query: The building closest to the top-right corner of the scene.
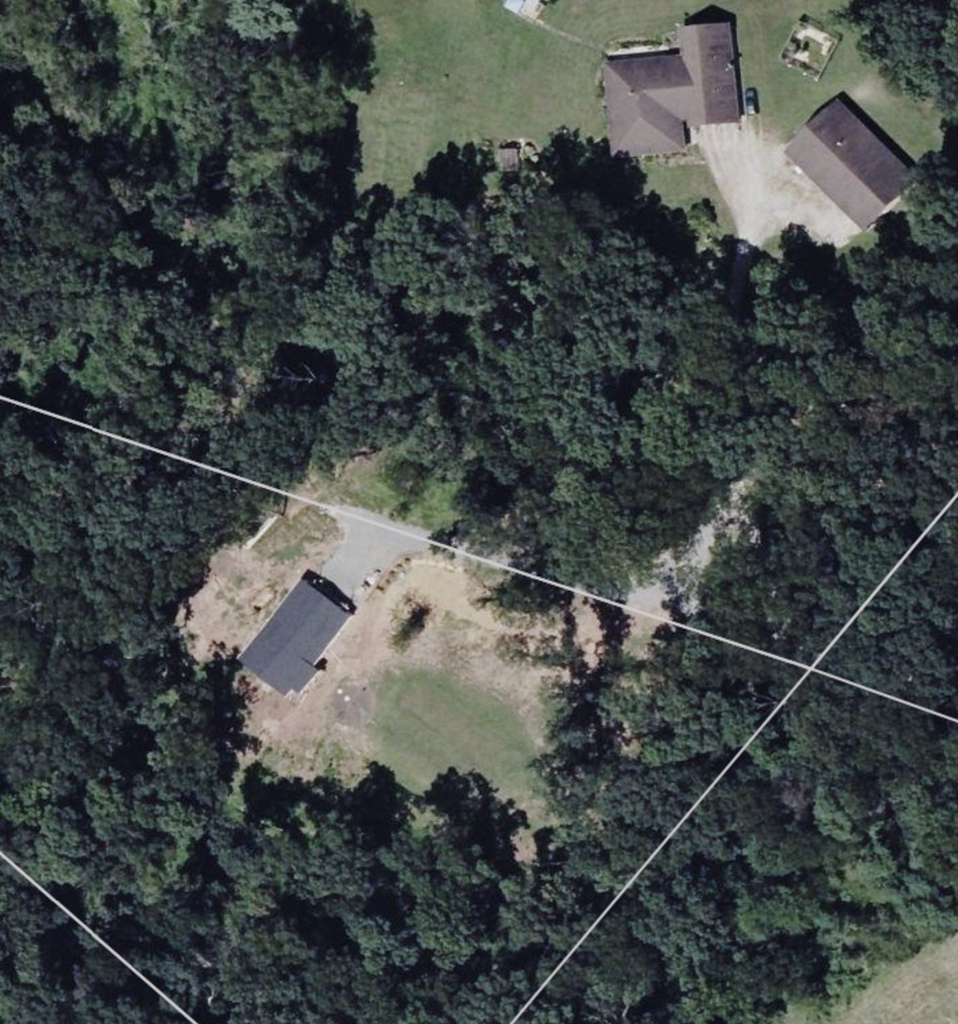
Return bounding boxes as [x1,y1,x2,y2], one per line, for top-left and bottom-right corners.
[785,99,916,230]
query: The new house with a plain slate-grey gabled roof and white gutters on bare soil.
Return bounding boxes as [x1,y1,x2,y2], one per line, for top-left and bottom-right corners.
[238,580,354,697]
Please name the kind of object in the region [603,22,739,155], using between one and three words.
house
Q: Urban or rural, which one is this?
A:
rural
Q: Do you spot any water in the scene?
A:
No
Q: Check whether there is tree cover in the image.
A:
Yes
